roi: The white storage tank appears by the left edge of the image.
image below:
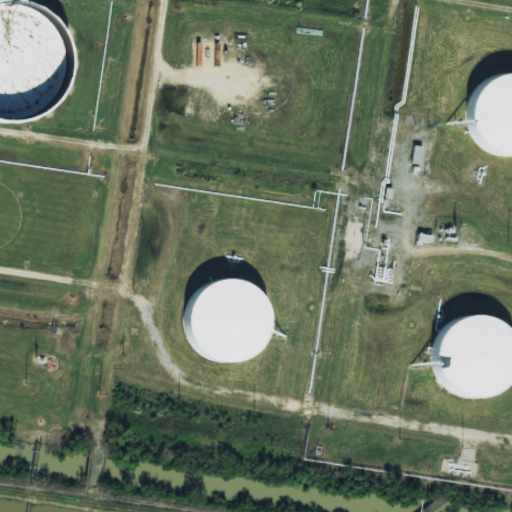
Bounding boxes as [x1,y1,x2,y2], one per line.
[0,0,78,125]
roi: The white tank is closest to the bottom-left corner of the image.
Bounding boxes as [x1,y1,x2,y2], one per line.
[182,276,288,366]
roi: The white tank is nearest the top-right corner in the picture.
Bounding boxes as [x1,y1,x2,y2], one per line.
[444,73,512,161]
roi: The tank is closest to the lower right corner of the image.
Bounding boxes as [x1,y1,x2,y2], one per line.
[409,314,512,402]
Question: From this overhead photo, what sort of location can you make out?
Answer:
industrial area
